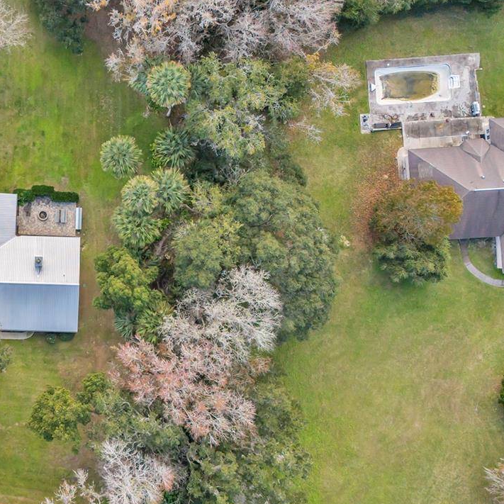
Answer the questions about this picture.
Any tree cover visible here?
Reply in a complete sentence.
Yes, tree cover can be seen from above here.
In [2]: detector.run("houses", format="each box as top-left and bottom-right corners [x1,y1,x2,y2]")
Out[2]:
[0,194,80,332]
[402,117,504,275]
